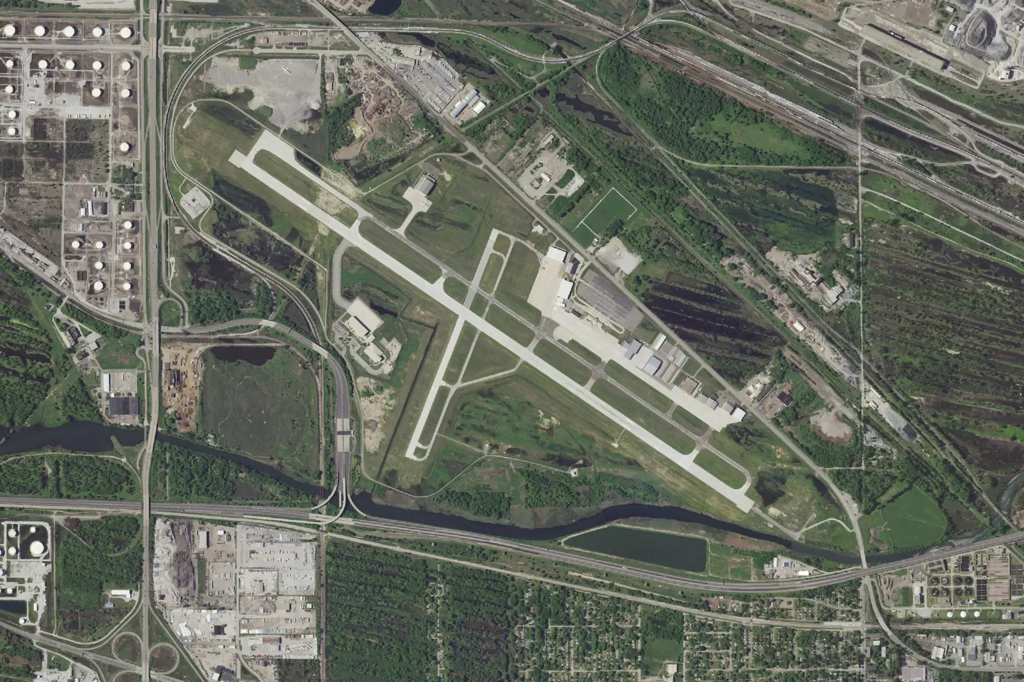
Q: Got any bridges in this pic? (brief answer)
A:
Yes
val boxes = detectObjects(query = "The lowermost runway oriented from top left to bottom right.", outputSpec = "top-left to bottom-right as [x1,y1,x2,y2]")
[240,157,744,503]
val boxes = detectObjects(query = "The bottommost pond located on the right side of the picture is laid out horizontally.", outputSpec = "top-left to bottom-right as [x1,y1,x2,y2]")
[565,526,707,573]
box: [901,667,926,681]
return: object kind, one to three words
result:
building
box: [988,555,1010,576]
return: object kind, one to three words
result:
building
